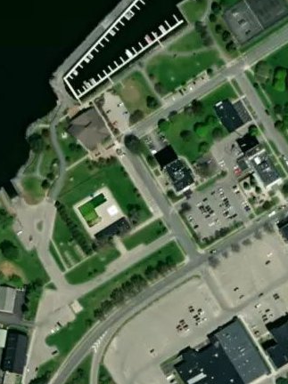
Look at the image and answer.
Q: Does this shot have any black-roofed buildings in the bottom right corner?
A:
Yes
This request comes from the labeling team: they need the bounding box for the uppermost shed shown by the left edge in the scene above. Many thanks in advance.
[0,287,17,314]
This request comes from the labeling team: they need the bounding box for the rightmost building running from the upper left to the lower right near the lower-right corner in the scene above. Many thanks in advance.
[216,320,272,384]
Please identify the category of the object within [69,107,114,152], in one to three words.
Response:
building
